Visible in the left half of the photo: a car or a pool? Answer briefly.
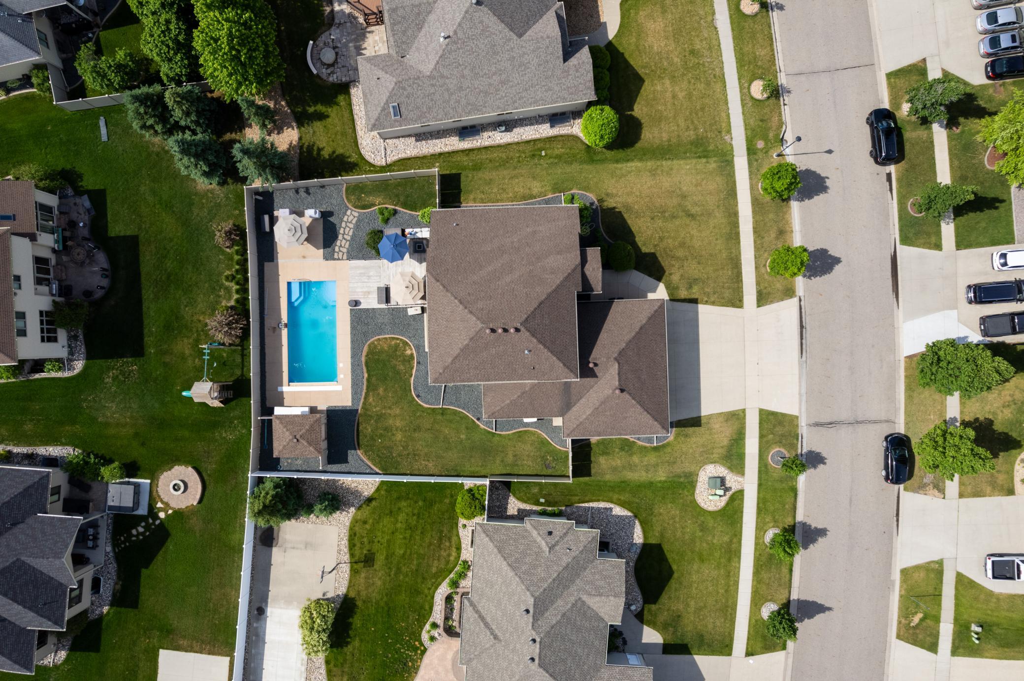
pool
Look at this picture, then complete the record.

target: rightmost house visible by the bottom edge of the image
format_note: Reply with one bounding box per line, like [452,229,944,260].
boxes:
[459,511,653,681]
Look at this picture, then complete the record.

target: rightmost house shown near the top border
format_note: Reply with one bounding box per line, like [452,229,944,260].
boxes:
[357,0,597,140]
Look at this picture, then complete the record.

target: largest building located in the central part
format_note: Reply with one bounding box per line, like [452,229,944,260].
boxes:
[424,204,670,439]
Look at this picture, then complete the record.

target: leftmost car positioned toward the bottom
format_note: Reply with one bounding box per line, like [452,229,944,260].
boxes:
[882,434,912,486]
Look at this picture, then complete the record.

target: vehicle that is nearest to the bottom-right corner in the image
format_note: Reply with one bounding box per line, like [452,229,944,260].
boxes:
[983,552,1024,580]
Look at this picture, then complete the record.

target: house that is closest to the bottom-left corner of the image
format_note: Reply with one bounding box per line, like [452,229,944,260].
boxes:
[0,465,107,681]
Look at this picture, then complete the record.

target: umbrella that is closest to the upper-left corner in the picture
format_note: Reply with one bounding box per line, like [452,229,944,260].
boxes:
[276,215,309,248]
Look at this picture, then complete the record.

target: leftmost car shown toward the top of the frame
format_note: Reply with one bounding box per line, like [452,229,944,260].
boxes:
[865,106,901,167]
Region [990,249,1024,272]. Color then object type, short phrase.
white car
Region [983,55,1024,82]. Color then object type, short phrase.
black car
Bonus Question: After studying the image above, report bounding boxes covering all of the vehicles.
[990,249,1024,272]
[970,0,1024,10]
[983,552,1024,580]
[977,26,1024,59]
[977,316,1024,341]
[865,106,901,167]
[882,434,912,486]
[976,3,1024,35]
[964,279,1024,307]
[983,55,1024,82]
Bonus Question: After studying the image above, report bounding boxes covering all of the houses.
[0,0,93,78]
[357,0,597,140]
[0,180,69,365]
[424,204,670,439]
[459,511,653,681]
[0,465,107,681]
